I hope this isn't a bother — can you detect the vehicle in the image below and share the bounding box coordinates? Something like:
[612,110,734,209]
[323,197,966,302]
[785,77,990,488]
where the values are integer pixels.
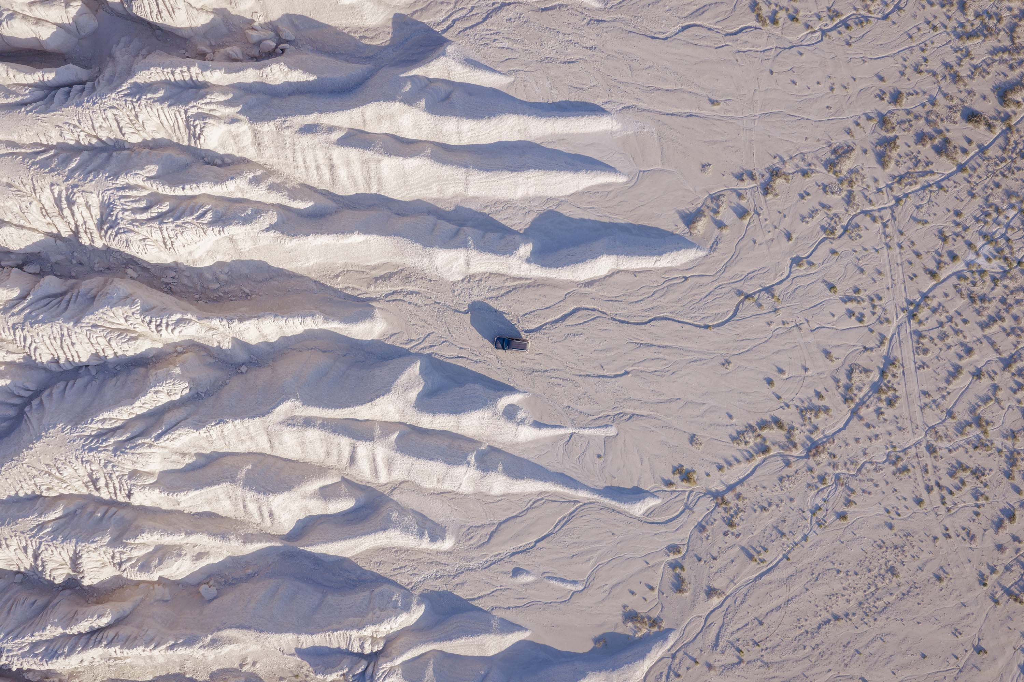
[492,335,532,353]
